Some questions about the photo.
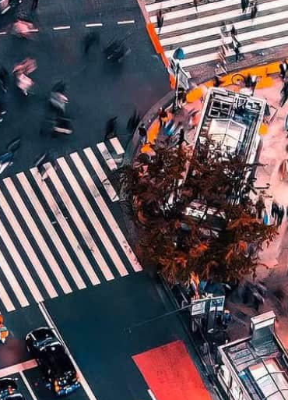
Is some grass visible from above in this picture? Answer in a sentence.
No, there is no grass in the image.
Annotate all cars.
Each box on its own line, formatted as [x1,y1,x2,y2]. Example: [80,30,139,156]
[24,317,83,392]
[0,366,30,400]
